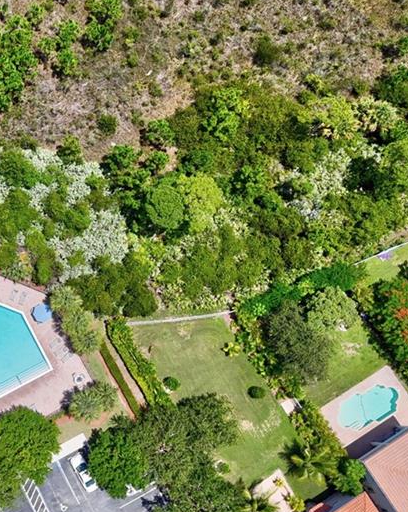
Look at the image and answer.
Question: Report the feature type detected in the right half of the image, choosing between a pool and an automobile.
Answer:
pool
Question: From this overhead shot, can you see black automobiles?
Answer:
No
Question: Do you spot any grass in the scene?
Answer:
Yes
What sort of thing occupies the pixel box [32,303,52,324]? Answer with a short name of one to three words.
umbrella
